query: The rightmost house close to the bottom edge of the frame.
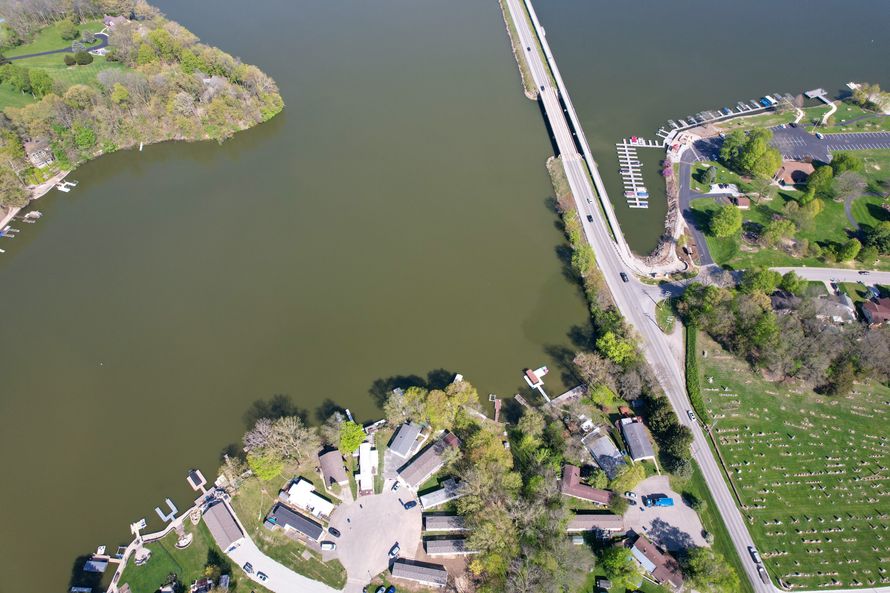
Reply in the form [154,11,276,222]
[630,536,683,588]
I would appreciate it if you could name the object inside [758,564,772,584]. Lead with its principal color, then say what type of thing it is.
gray vehicle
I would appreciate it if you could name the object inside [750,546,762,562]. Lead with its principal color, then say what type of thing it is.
white vehicle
